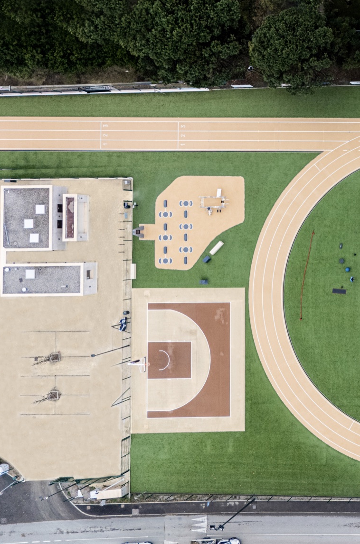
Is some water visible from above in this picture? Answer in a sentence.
No, the scene doesn't show any water.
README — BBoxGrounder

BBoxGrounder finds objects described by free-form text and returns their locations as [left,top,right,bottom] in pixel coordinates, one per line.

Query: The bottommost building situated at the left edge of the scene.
[0,262,98,296]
